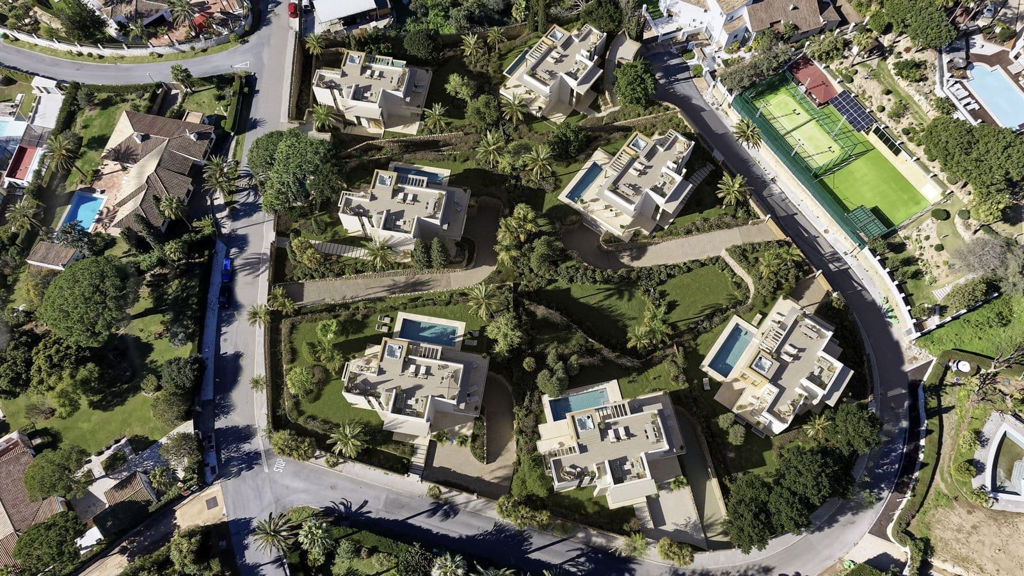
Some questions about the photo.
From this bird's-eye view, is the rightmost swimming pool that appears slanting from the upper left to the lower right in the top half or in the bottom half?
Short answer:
top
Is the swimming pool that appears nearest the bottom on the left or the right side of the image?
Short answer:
right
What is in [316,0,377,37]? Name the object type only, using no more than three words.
shed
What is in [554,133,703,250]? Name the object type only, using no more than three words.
house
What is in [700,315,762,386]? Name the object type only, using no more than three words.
swimming pool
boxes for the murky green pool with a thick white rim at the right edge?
[983,426,1024,505]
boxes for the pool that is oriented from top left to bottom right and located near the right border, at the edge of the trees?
[963,60,1024,131]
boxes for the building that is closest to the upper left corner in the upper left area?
[31,76,64,103]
